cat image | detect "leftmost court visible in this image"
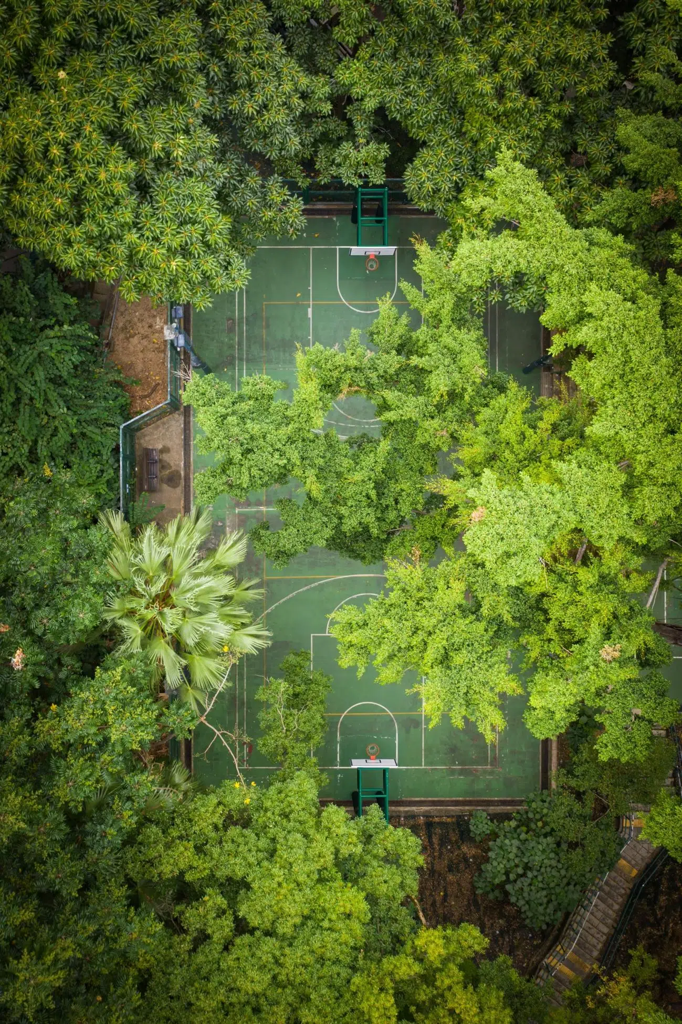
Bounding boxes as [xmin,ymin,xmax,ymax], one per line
[192,216,542,800]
